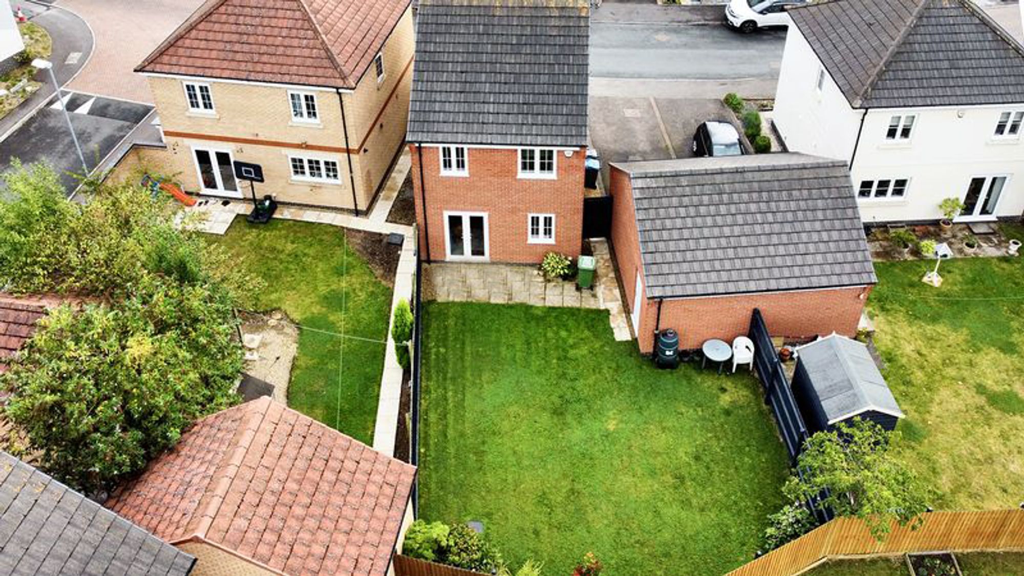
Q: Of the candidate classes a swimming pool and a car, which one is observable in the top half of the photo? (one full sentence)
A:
What appears in the top half of the photo is a car.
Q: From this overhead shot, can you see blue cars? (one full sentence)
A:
No, there's no blue car here.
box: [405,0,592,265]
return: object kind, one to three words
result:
house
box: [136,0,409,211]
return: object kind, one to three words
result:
house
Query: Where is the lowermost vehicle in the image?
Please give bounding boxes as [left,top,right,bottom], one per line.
[694,119,750,158]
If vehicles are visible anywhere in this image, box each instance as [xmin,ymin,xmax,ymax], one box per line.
[694,119,750,158]
[722,0,799,34]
